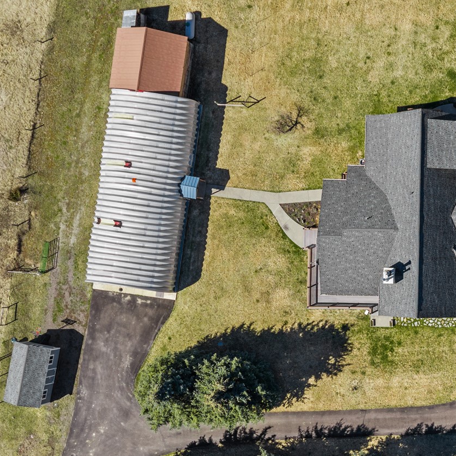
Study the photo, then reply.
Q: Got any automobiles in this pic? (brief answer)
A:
No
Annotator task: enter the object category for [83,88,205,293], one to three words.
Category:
building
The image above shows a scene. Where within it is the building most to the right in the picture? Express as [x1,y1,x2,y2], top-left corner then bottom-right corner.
[319,108,456,318]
